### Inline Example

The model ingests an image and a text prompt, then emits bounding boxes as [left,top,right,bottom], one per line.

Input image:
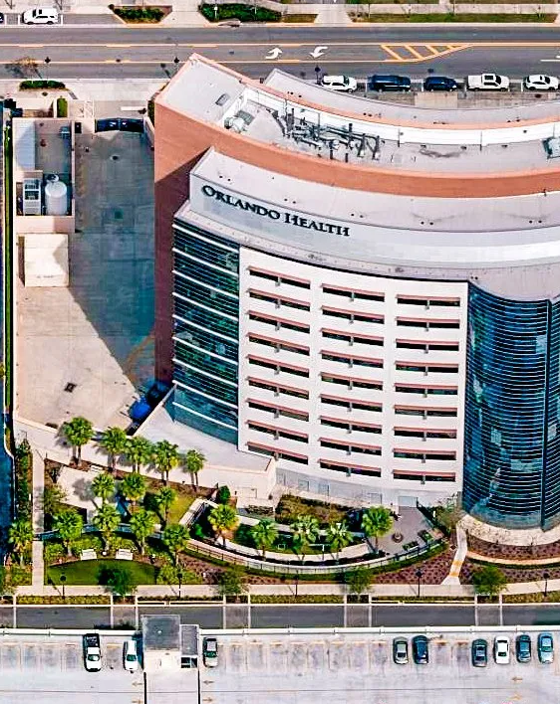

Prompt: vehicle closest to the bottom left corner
[84,634,100,671]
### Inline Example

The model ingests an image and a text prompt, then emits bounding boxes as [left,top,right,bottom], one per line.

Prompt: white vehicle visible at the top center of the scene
[320,74,357,91]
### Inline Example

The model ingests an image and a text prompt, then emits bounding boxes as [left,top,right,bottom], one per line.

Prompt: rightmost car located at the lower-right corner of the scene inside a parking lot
[538,634,555,664]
